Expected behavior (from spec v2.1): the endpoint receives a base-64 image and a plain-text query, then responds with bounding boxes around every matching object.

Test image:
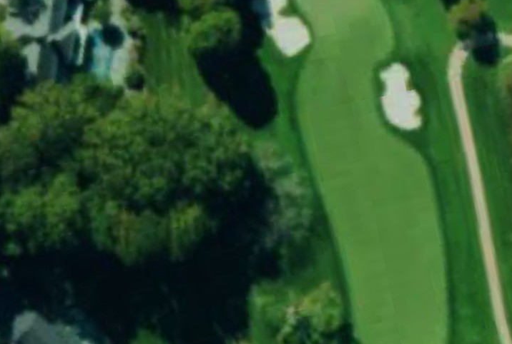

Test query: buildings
[21,0,88,76]
[0,307,76,344]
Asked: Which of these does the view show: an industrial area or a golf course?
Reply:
golf course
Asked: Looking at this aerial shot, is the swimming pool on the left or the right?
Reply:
left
